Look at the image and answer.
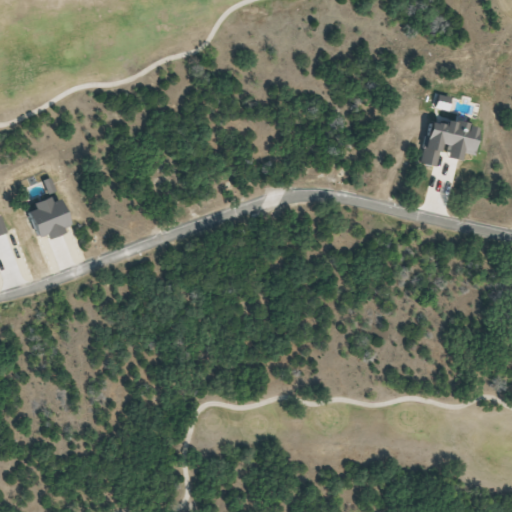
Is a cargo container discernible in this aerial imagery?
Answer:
No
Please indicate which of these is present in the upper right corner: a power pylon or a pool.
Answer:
pool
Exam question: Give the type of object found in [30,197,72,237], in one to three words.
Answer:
house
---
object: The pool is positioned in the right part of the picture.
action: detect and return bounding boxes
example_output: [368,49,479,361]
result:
[450,96,480,118]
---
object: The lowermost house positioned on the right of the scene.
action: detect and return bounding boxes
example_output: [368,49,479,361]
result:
[420,120,480,168]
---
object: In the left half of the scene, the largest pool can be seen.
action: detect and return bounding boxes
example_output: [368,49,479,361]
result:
[27,182,48,203]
